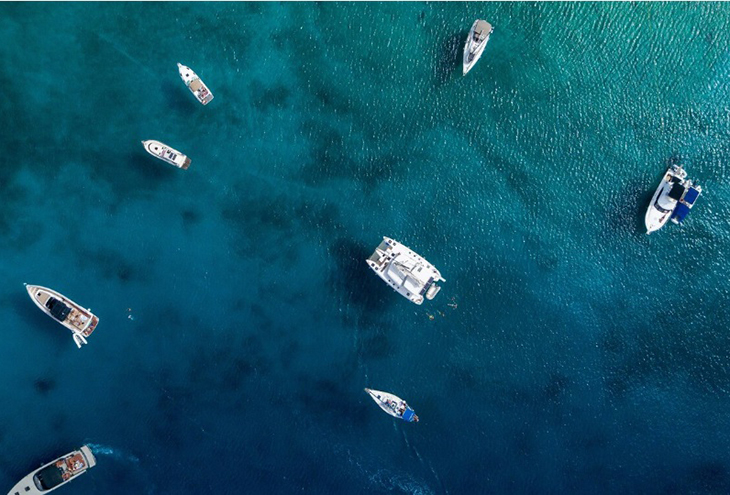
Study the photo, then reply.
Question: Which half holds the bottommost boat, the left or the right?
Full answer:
The bottommost boat is on the left side of the image.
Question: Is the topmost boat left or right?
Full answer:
The topmost boat appears in the right half of the scene.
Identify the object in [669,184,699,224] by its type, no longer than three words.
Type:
boat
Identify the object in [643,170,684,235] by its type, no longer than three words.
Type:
boat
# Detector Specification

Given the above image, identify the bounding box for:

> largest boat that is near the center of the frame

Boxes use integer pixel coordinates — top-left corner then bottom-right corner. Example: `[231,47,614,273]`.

[366,237,445,305]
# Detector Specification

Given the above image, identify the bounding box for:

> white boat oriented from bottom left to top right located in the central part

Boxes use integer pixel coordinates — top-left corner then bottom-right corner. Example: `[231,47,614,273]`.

[427,282,442,300]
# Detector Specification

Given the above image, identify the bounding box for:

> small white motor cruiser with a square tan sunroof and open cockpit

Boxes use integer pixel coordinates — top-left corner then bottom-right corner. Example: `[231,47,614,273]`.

[177,63,215,106]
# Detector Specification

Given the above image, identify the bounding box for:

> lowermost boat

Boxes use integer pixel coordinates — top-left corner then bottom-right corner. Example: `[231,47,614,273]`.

[11,446,96,495]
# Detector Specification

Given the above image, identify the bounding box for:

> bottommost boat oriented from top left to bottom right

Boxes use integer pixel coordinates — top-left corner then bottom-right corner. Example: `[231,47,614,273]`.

[364,389,418,429]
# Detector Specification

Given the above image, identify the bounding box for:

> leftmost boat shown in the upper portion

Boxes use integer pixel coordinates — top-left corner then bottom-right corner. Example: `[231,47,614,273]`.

[140,139,192,170]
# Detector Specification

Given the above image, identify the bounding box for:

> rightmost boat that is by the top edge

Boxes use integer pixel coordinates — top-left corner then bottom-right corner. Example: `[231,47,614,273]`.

[463,18,492,77]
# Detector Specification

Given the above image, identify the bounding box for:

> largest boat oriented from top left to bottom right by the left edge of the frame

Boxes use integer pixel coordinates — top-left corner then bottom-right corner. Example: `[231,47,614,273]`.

[24,284,101,335]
